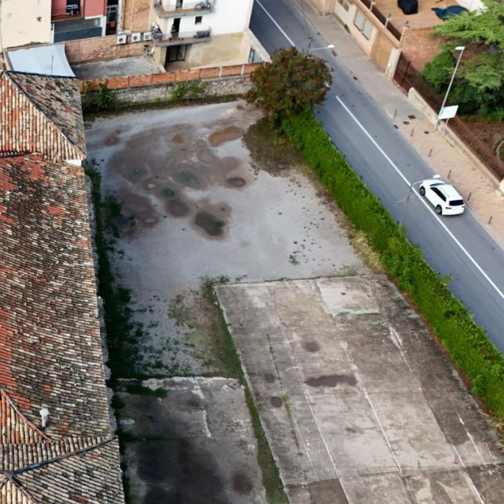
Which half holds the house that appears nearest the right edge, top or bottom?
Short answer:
top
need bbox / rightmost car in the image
[421,181,468,217]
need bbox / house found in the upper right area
[323,0,419,85]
